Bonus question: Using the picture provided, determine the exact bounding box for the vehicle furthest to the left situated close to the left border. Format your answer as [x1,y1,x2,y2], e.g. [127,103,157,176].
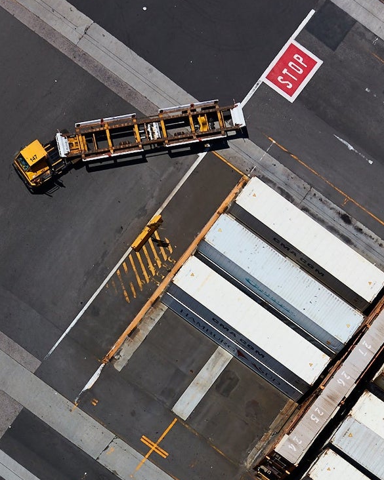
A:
[12,129,88,193]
